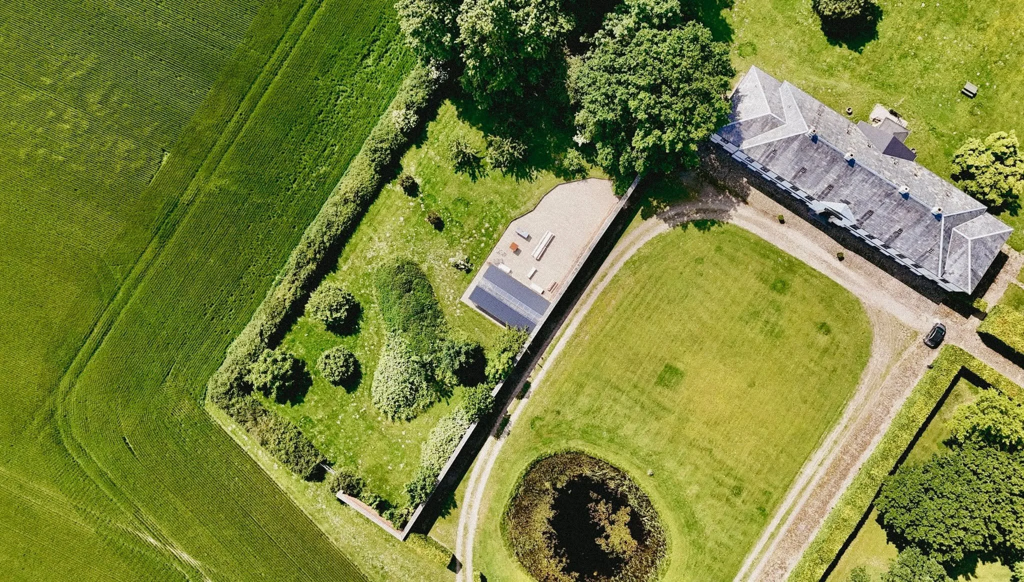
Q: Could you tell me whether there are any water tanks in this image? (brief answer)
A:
No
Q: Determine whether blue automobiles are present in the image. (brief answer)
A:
No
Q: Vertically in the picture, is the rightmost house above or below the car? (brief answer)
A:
above it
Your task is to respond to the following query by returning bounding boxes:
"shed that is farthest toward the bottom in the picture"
[470,264,551,336]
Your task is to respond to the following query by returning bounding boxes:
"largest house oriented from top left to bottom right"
[702,65,1012,293]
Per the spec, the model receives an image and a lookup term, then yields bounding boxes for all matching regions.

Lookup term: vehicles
[922,323,947,350]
